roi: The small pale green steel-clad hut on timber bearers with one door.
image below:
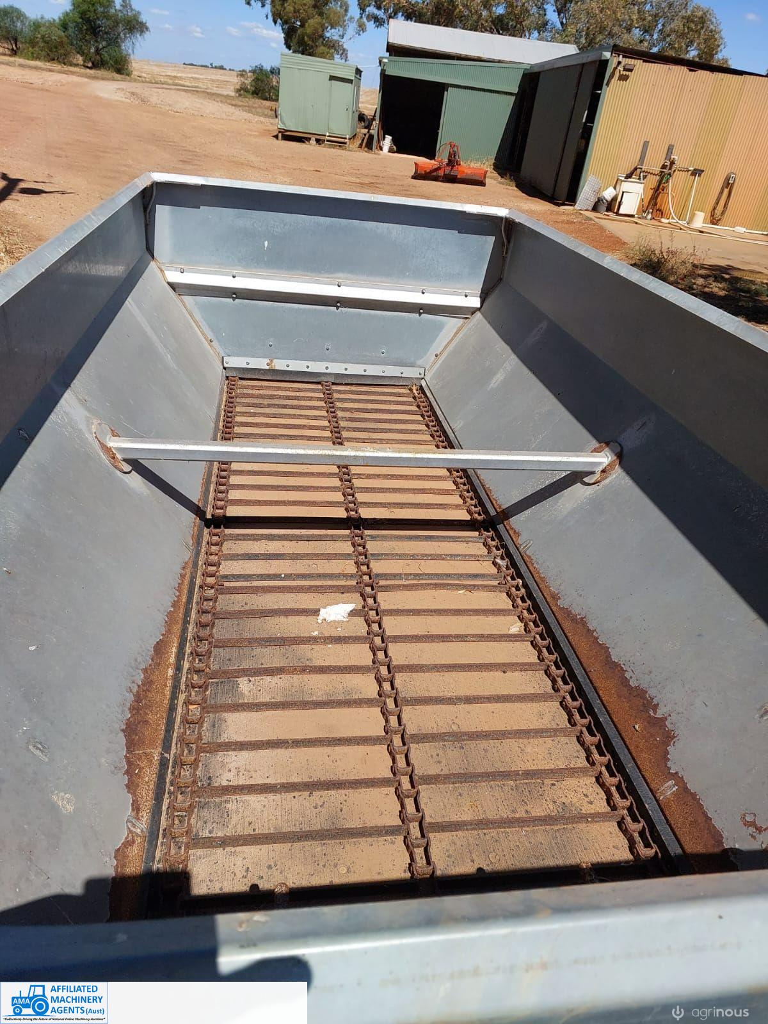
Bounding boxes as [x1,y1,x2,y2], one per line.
[277,52,365,148]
